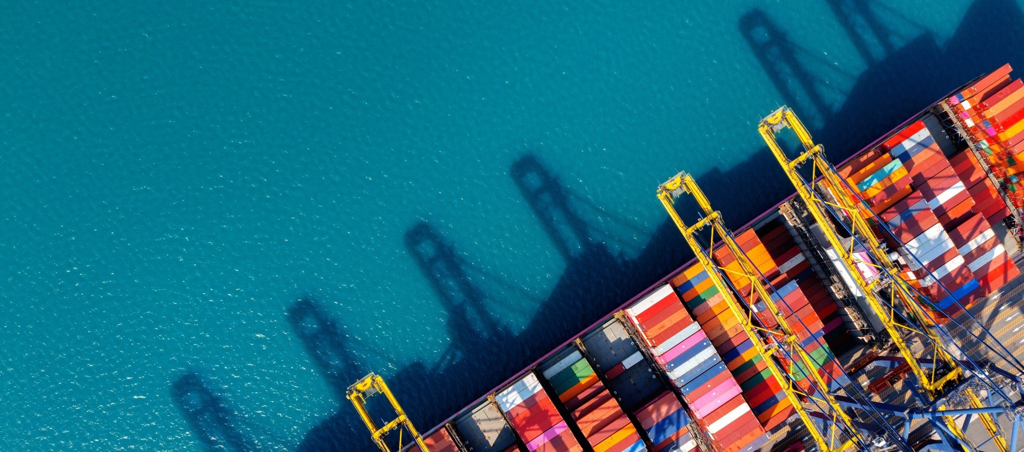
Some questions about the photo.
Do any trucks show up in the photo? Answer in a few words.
Yes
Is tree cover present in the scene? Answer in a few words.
No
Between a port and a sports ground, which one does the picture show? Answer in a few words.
port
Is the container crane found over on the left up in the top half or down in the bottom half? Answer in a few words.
bottom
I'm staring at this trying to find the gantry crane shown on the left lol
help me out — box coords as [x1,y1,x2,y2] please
[338,367,435,452]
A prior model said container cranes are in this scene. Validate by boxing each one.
[653,165,930,452]
[755,101,1024,452]
[338,367,435,452]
